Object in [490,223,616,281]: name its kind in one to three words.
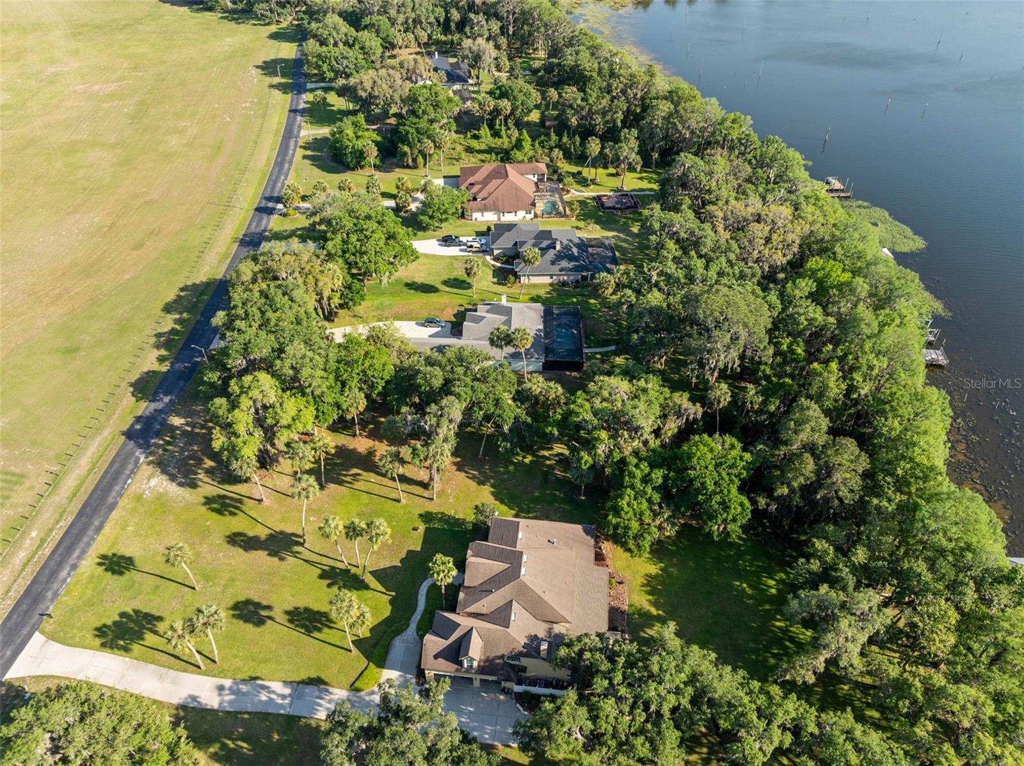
house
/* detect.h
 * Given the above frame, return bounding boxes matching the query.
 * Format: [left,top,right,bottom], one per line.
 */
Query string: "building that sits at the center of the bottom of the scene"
[422,516,609,690]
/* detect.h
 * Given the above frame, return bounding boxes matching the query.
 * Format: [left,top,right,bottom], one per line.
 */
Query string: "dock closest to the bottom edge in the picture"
[922,319,949,368]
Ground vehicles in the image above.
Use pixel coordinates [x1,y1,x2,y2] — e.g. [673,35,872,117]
[442,234,459,242]
[466,236,483,244]
[446,239,464,246]
[424,316,446,327]
[466,243,487,251]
